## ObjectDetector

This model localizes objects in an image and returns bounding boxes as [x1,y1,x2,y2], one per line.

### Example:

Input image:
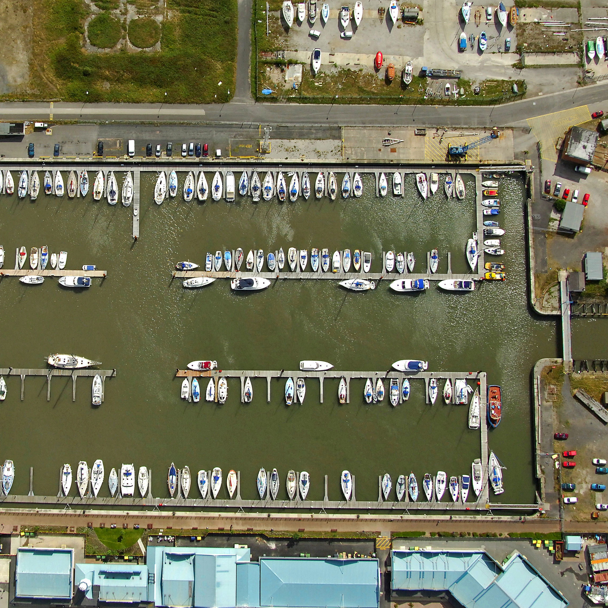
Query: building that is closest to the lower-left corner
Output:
[16,549,74,598]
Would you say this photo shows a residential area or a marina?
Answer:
marina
